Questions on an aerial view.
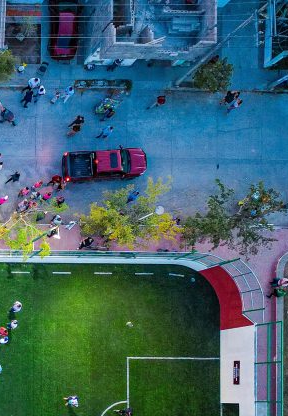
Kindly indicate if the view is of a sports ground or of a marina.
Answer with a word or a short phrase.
sports ground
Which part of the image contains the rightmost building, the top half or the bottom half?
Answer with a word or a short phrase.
top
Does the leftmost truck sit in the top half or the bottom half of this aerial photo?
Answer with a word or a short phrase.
top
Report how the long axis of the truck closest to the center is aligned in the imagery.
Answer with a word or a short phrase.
from side to side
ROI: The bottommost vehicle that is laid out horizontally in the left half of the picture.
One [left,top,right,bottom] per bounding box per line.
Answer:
[57,146,144,184]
